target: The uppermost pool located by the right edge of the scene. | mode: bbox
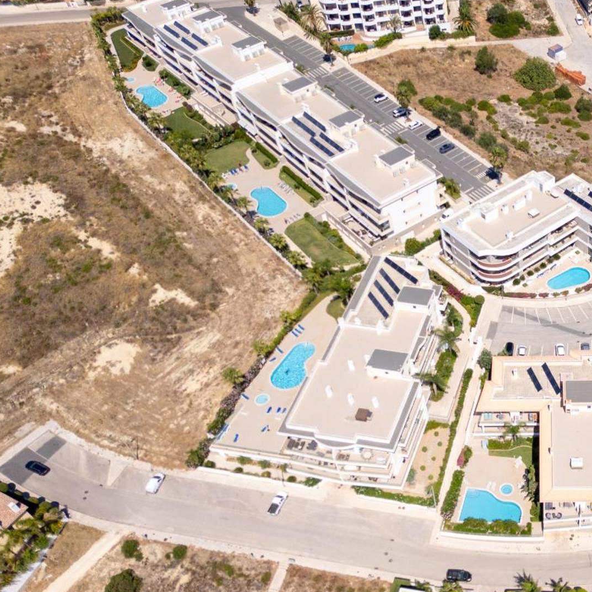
[546,266,592,291]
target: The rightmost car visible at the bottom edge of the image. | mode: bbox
[445,566,474,583]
